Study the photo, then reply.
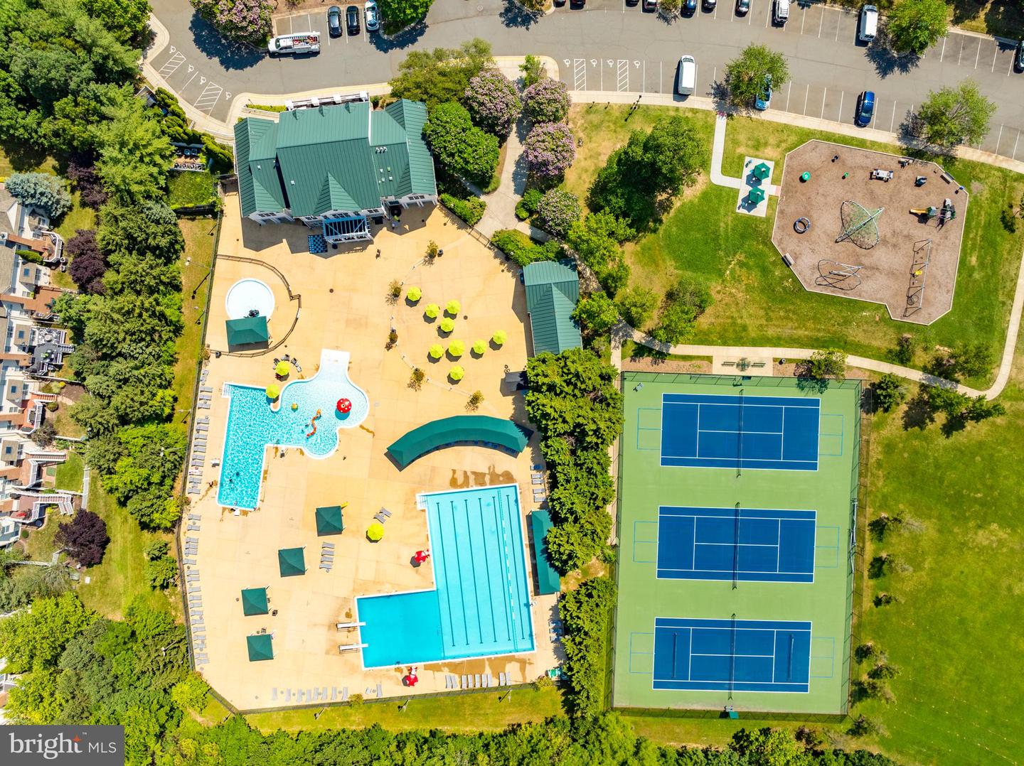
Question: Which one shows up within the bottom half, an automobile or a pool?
pool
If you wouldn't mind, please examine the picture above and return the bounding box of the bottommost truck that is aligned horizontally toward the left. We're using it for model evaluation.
[273,32,319,56]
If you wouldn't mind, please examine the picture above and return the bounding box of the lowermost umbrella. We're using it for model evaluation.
[404,673,417,687]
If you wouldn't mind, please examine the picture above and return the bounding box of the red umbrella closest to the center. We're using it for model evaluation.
[414,551,427,564]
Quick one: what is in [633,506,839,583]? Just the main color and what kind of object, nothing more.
blue tennis court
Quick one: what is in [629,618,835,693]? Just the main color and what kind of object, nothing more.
blue tennis court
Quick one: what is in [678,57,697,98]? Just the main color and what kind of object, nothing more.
white vehicle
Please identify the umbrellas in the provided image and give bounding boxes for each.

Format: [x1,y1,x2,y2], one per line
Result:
[390,206,400,216]
[414,551,427,564]
[493,330,506,344]
[429,343,443,357]
[748,186,765,204]
[424,303,438,317]
[368,523,384,539]
[440,318,454,332]
[450,365,464,379]
[446,300,460,314]
[473,340,487,354]
[404,673,417,687]
[448,339,464,355]
[266,384,281,398]
[754,162,770,180]
[275,362,289,375]
[407,286,421,300]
